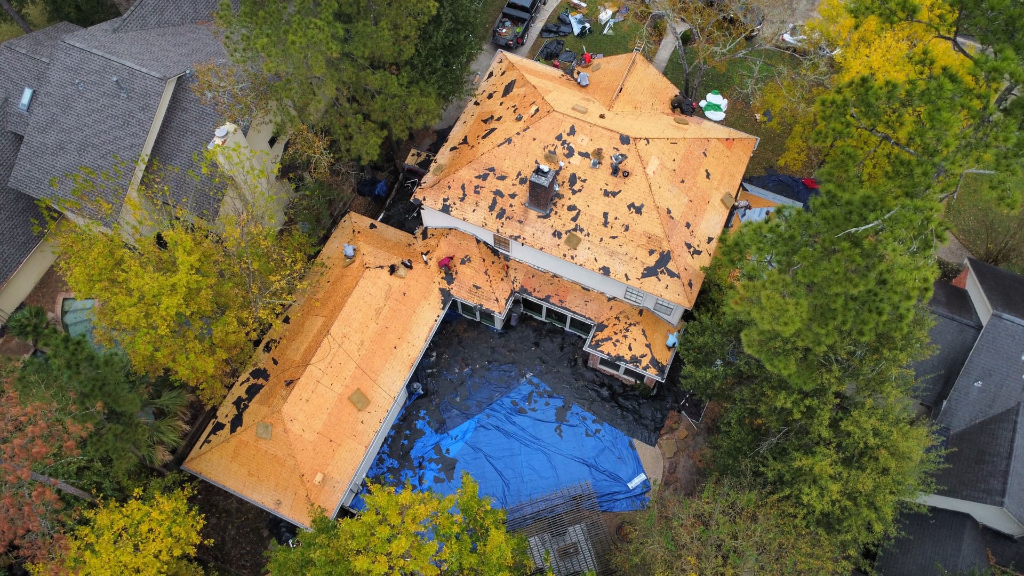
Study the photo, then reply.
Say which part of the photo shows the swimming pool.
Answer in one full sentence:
The swimming pool sits in the left section of the image.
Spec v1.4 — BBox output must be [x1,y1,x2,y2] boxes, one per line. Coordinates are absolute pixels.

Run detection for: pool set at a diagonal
[56,291,187,400]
